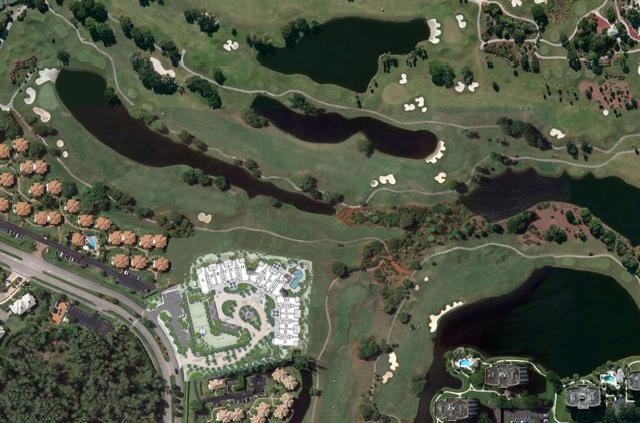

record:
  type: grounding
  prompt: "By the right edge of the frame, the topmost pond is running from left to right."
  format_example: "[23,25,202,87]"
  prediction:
[462,169,640,245]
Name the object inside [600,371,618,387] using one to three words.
swimming pool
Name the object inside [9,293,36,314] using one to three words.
house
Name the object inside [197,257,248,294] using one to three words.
building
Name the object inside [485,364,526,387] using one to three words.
building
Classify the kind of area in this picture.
golf course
